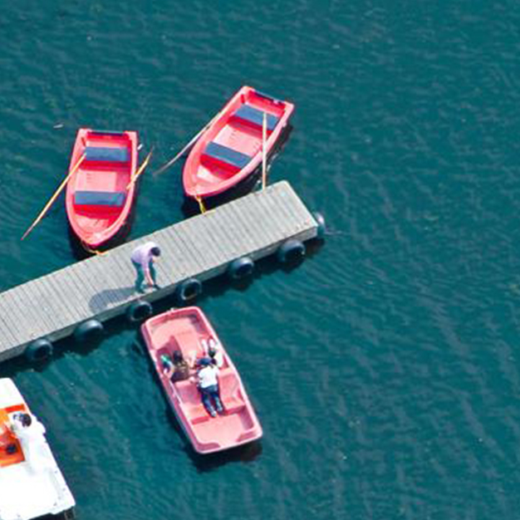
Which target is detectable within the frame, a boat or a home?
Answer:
boat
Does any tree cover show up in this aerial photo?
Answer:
No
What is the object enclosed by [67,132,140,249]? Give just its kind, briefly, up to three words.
boat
